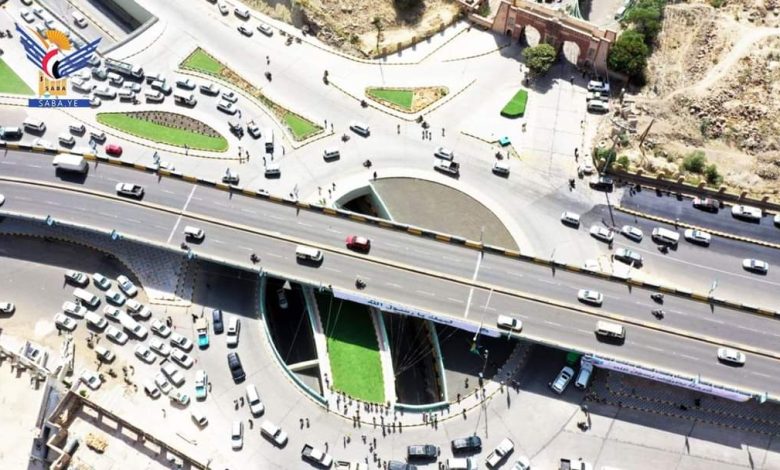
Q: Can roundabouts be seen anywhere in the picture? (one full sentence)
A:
Yes, you can see a roundabout in this photo.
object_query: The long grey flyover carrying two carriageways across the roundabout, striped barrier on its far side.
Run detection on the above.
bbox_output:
[0,146,780,408]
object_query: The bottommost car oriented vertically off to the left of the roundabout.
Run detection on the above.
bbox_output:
[229,418,245,450]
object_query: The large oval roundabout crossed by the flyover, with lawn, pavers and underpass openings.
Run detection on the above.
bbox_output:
[261,167,549,428]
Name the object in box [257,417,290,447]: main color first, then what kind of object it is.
white truck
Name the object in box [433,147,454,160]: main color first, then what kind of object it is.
white vehicle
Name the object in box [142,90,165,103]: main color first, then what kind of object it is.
white vehicle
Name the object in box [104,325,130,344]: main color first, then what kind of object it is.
white car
